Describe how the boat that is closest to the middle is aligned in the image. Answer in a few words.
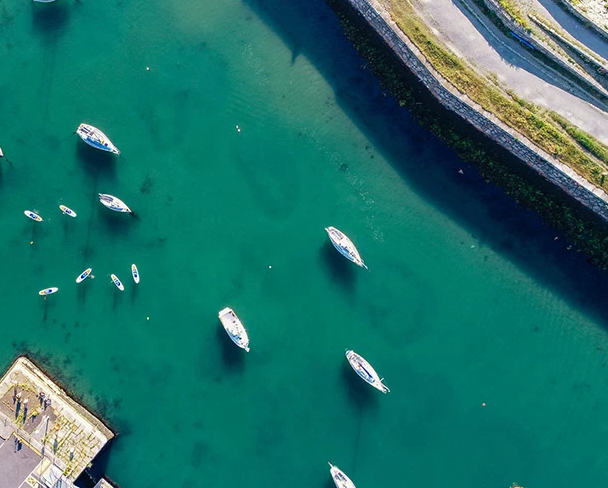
at an angle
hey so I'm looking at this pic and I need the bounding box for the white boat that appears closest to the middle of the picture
[325,224,368,271]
